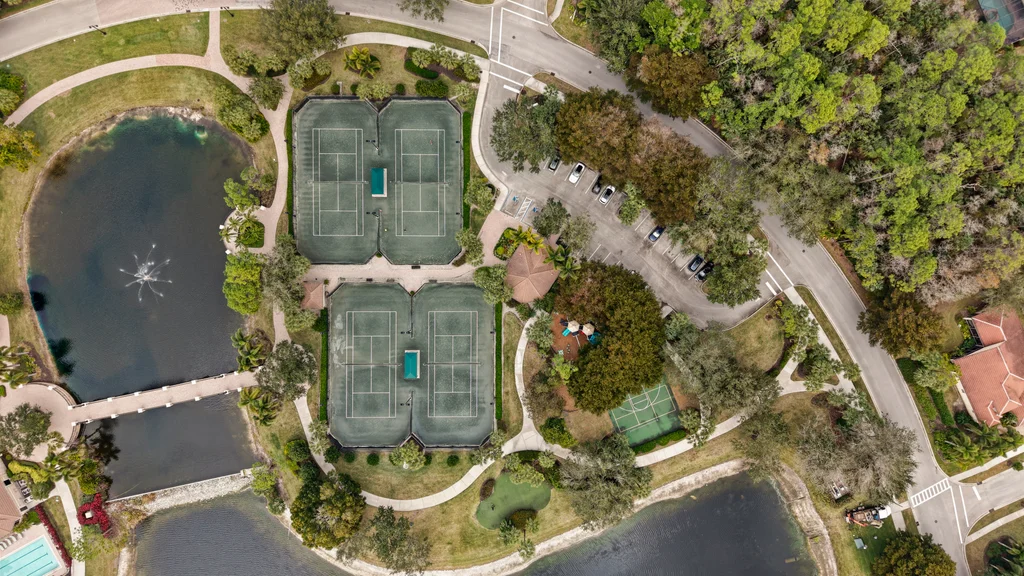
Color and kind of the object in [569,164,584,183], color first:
white car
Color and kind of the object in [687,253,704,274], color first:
gray car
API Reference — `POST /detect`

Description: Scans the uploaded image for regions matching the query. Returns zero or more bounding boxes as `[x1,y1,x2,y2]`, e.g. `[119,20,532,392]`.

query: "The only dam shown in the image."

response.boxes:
[103,465,255,517]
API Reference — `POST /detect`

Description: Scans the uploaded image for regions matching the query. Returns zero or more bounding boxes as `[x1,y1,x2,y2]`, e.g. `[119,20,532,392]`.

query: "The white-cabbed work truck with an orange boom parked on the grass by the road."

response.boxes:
[845,508,894,530]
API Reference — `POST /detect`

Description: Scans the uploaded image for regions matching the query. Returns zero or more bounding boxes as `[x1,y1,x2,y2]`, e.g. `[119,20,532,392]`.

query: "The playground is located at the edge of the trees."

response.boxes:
[560,318,601,346]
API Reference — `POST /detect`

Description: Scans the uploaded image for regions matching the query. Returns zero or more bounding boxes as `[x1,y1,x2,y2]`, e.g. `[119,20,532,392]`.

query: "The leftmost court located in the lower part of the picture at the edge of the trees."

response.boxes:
[329,284,411,446]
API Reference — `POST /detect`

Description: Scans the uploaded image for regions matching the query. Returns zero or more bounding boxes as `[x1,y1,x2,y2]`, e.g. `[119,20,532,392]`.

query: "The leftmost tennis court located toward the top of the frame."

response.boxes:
[298,101,379,263]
